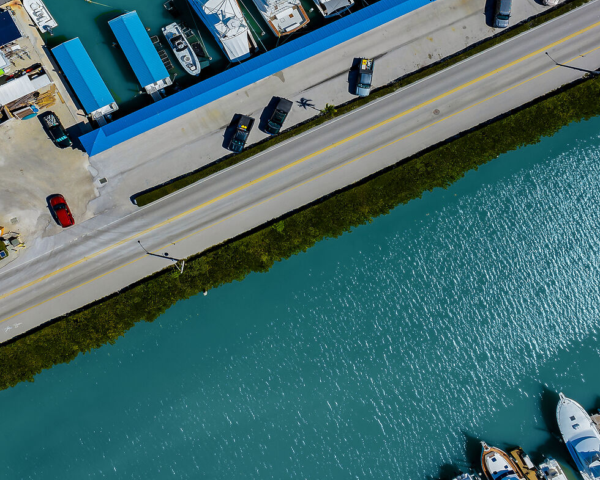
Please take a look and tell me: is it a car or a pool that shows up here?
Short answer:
car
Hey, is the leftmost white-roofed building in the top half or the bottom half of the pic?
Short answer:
top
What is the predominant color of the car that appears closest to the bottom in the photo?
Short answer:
red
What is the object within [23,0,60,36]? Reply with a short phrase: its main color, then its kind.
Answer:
white boat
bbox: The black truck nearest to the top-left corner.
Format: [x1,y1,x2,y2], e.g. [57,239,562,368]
[44,112,72,148]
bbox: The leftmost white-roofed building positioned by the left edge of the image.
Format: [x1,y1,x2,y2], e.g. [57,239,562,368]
[0,76,34,107]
